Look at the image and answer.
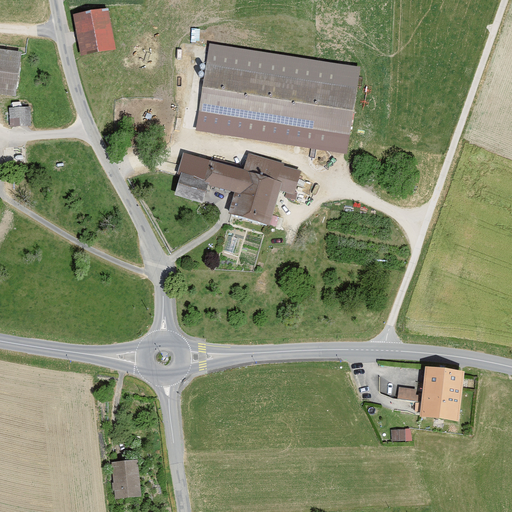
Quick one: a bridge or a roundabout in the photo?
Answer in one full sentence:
The image shows a roundabout.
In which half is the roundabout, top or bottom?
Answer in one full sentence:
It is in the bottom half that the roundabout appears.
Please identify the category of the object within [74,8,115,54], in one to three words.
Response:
barn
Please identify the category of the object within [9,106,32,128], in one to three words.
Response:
shed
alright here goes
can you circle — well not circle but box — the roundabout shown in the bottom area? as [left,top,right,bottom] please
[134,329,192,387]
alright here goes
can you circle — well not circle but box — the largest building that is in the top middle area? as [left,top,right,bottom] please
[196,44,362,154]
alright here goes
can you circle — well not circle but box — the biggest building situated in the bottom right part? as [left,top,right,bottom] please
[420,366,464,421]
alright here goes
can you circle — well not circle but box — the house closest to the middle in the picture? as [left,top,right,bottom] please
[175,153,300,227]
